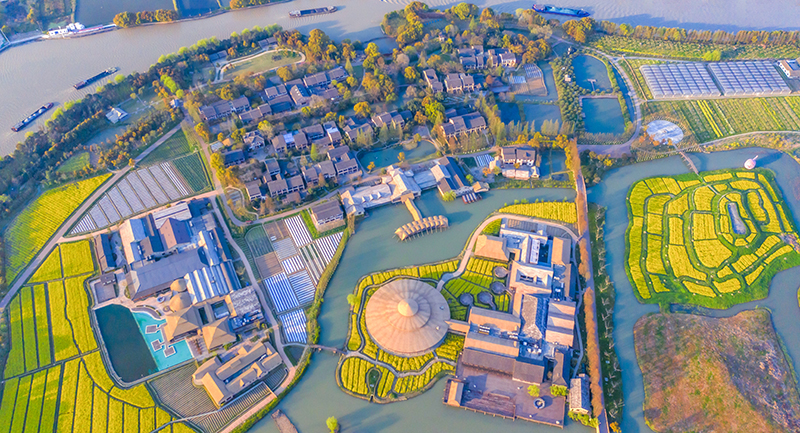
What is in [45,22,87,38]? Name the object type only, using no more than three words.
boat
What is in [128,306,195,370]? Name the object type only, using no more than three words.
swimming pool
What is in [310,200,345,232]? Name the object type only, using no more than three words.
house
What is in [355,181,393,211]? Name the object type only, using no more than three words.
building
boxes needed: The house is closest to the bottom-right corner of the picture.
[568,379,588,414]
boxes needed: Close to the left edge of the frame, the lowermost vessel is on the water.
[8,102,54,131]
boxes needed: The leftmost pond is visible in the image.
[94,300,159,388]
